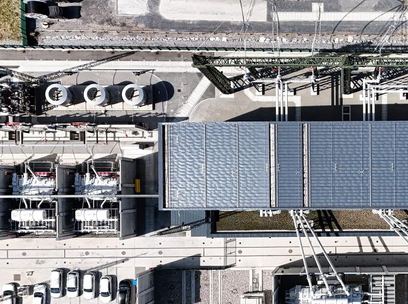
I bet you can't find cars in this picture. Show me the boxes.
[2,282,17,304]
[83,272,98,300]
[66,270,80,297]
[117,280,131,304]
[32,283,47,304]
[99,275,114,302]
[50,268,65,298]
